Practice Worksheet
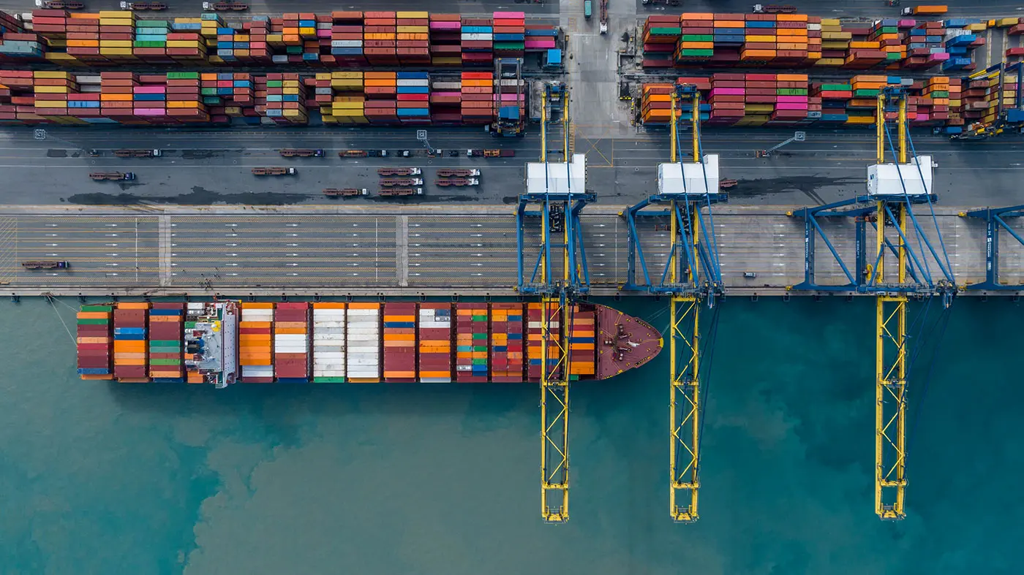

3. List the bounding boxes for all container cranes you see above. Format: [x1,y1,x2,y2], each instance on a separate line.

[786,76,961,520]
[616,75,726,521]
[492,59,526,139]
[511,74,595,522]
[954,62,1024,140]
[961,203,1024,290]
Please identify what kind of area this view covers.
port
